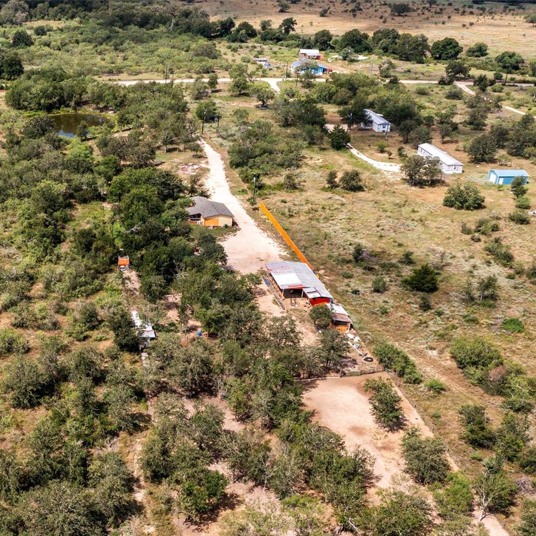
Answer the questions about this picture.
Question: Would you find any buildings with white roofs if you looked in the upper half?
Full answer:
Yes, a building with a white roof shows up in the upper half.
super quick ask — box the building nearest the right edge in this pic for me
[488,170,531,184]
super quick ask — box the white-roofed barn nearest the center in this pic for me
[265,261,332,307]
